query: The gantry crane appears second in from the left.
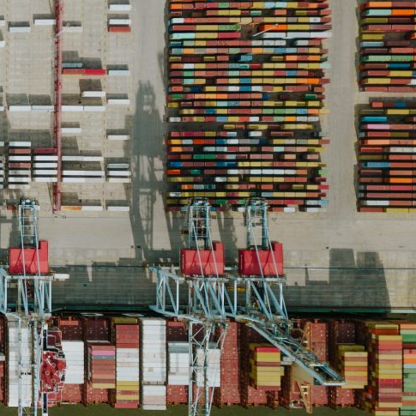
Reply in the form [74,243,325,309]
[142,199,227,416]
